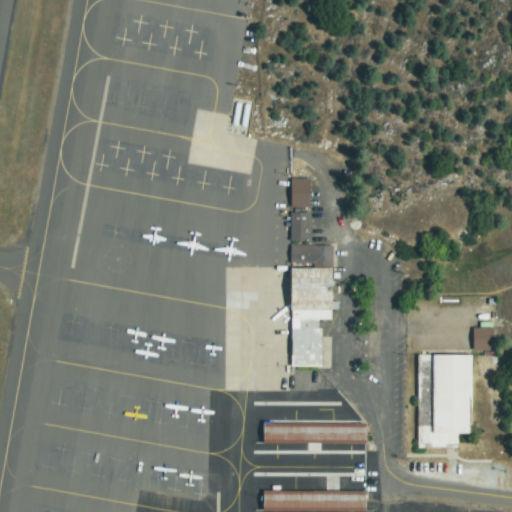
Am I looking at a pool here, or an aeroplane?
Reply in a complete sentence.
I can see an aeroplane in this picture.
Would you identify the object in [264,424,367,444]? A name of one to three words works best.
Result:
hangar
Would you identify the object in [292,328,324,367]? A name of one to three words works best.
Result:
building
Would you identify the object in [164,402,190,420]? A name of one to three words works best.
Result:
airplane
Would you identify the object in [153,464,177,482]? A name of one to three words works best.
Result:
airplane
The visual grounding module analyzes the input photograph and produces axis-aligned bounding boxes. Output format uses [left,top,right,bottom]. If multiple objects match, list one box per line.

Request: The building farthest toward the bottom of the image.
[264,492,367,512]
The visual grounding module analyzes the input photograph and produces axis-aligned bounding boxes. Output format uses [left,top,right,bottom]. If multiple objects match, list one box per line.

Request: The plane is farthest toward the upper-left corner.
[142,225,167,246]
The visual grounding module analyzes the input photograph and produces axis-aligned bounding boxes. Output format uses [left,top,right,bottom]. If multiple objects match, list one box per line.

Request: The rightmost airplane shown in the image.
[270,305,291,324]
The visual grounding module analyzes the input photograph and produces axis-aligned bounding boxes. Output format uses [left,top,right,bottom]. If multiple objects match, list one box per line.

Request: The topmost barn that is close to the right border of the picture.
[474,328,494,350]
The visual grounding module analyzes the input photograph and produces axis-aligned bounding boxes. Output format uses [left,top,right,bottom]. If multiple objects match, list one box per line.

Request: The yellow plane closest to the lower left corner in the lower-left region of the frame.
[124,404,148,420]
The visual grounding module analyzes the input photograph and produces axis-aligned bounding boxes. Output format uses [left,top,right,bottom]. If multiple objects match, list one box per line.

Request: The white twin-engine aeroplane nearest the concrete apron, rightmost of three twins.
[215,236,248,260]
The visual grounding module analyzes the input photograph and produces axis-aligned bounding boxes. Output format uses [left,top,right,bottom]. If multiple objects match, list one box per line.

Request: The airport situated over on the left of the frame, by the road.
[0,0,368,512]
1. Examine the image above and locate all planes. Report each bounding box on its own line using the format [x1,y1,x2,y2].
[164,402,190,420]
[204,344,222,359]
[134,341,160,358]
[153,464,177,482]
[177,230,210,254]
[270,305,291,324]
[215,236,248,260]
[124,404,148,420]
[190,407,216,424]
[150,334,176,352]
[126,328,148,346]
[178,472,204,490]
[142,225,167,246]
